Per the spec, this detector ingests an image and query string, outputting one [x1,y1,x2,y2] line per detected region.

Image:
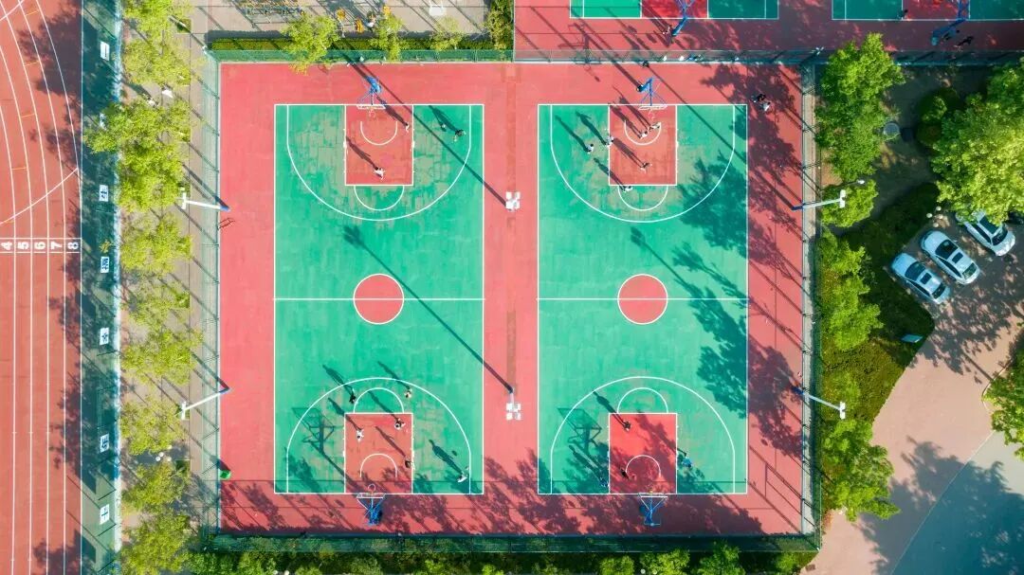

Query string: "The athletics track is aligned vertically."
[0,0,82,575]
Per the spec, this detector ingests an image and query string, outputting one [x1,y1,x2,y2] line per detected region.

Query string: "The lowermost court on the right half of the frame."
[536,104,749,494]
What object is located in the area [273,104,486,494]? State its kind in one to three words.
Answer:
basketball court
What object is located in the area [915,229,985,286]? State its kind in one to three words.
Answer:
car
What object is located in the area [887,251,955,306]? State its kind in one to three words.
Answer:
car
